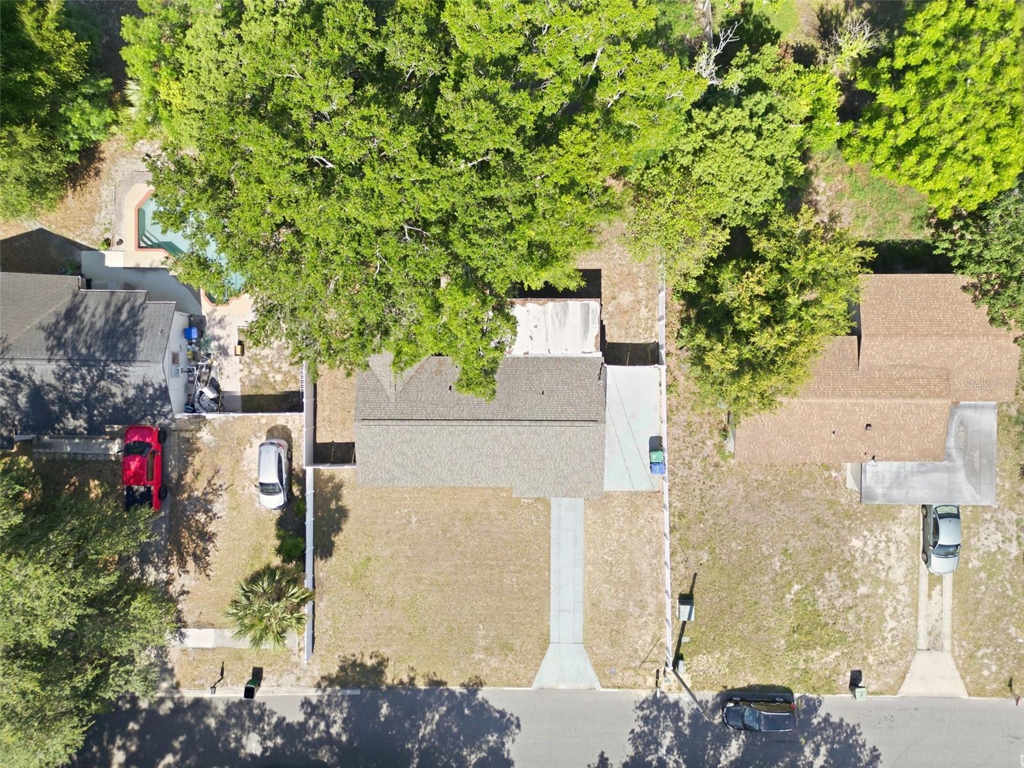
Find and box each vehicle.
[122,425,164,509]
[923,505,964,574]
[255,439,291,509]
[721,698,796,737]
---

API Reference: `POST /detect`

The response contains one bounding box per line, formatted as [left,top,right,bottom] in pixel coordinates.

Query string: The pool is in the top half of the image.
[133,189,259,310]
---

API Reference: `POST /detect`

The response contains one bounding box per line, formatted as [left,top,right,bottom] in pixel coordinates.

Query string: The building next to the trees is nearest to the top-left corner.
[0,270,190,449]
